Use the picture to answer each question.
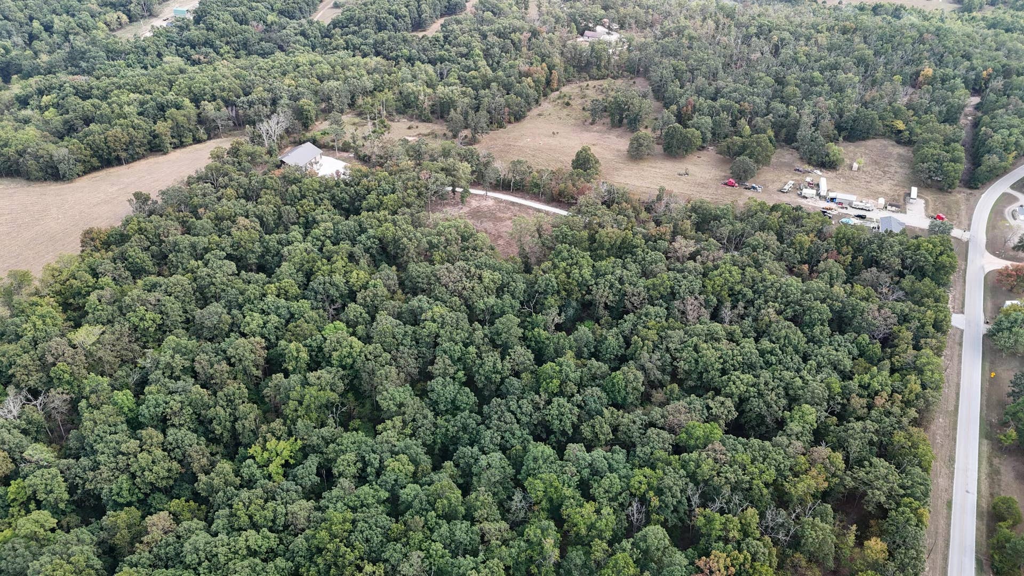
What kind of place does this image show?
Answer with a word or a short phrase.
forest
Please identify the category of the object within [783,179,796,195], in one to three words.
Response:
vehicle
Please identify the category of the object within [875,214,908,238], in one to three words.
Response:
house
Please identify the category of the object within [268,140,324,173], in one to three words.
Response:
building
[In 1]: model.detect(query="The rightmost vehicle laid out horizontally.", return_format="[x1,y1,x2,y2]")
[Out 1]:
[928,210,949,222]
